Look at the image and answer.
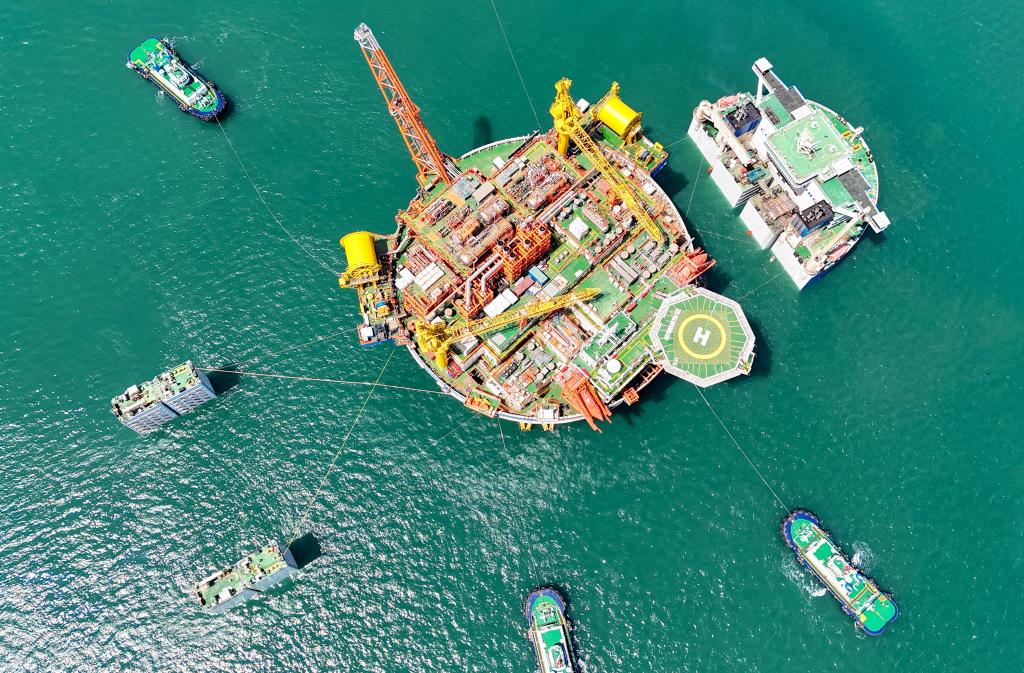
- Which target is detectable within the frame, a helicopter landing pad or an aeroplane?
helicopter landing pad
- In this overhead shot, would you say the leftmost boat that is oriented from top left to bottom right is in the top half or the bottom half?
top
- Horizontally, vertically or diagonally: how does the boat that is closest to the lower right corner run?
diagonally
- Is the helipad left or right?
right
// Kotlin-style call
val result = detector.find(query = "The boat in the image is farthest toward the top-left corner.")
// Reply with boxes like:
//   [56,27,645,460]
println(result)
[129,43,225,122]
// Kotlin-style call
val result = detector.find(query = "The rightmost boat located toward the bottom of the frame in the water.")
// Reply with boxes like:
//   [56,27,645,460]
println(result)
[781,506,895,636]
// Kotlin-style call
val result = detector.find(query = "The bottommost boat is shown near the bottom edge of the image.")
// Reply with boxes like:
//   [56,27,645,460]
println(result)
[526,585,584,673]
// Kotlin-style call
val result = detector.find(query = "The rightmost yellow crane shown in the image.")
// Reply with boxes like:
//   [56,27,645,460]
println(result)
[551,72,664,247]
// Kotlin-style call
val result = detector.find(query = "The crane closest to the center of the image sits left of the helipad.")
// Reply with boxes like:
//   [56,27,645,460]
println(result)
[415,296,599,370]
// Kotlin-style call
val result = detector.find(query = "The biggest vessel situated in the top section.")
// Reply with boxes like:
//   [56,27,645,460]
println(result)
[690,53,895,290]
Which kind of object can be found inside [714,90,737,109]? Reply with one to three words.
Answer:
boat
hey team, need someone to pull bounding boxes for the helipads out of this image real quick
[648,287,758,387]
